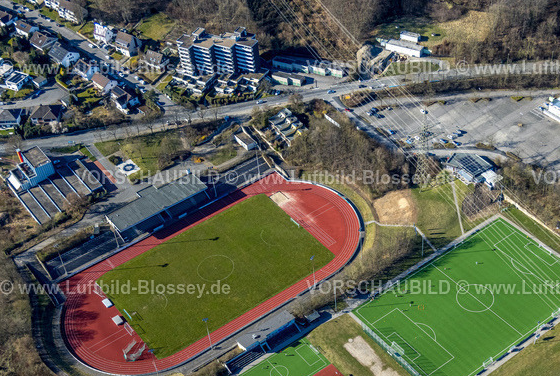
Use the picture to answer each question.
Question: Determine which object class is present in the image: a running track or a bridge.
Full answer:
I can see a running track in this picture.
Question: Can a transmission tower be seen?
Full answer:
Yes, the frame does contain a transmission tower.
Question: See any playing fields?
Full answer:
Yes, there is a playing field in the image.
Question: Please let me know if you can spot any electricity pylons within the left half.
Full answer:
No, I see no electricity pylon within the left half.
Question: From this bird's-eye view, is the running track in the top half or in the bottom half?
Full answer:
You can find the running track in the bottom half.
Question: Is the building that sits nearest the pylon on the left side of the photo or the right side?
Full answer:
You can find the building that sits nearest the pylon on the right side of the picture.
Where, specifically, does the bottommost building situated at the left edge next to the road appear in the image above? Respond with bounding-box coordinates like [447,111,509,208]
[0,142,104,228]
